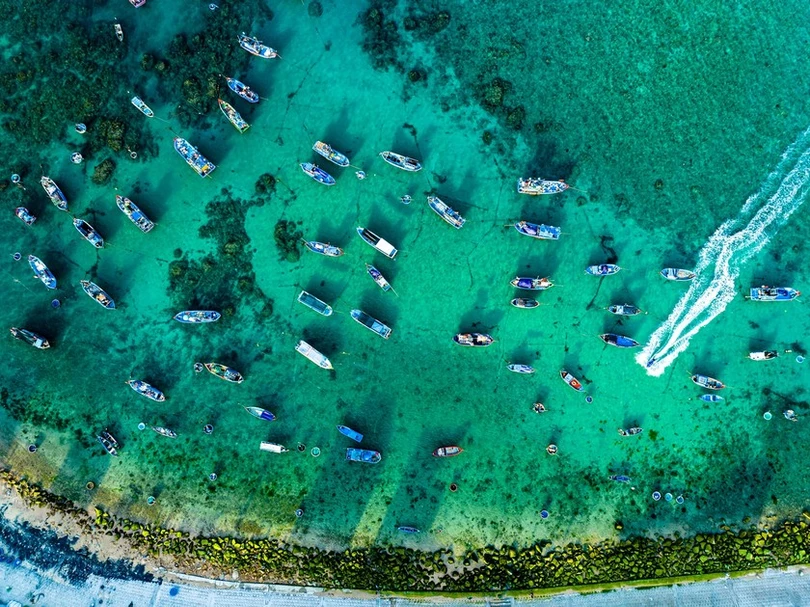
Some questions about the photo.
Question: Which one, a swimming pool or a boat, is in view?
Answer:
boat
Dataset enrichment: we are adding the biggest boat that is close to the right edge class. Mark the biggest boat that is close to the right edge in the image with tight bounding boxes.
[747,283,806,301]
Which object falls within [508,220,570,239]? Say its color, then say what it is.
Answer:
blue boat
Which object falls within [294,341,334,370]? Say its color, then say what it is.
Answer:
white boat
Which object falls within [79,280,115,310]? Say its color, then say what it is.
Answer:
blue boat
